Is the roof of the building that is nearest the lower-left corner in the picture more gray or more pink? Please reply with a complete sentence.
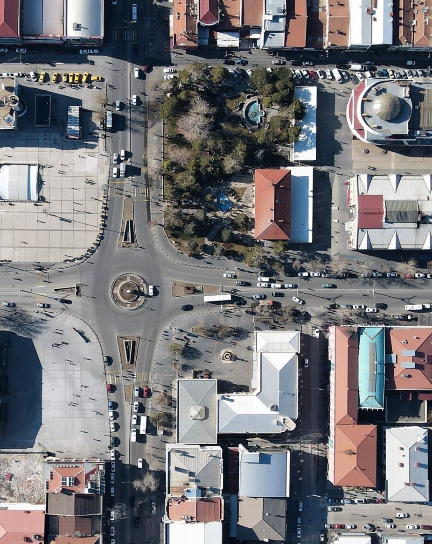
The color of the roof of the building that is nearest the lower-left corner is pink.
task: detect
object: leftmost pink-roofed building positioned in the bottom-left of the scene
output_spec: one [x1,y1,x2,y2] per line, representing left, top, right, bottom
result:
[0,501,46,544]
